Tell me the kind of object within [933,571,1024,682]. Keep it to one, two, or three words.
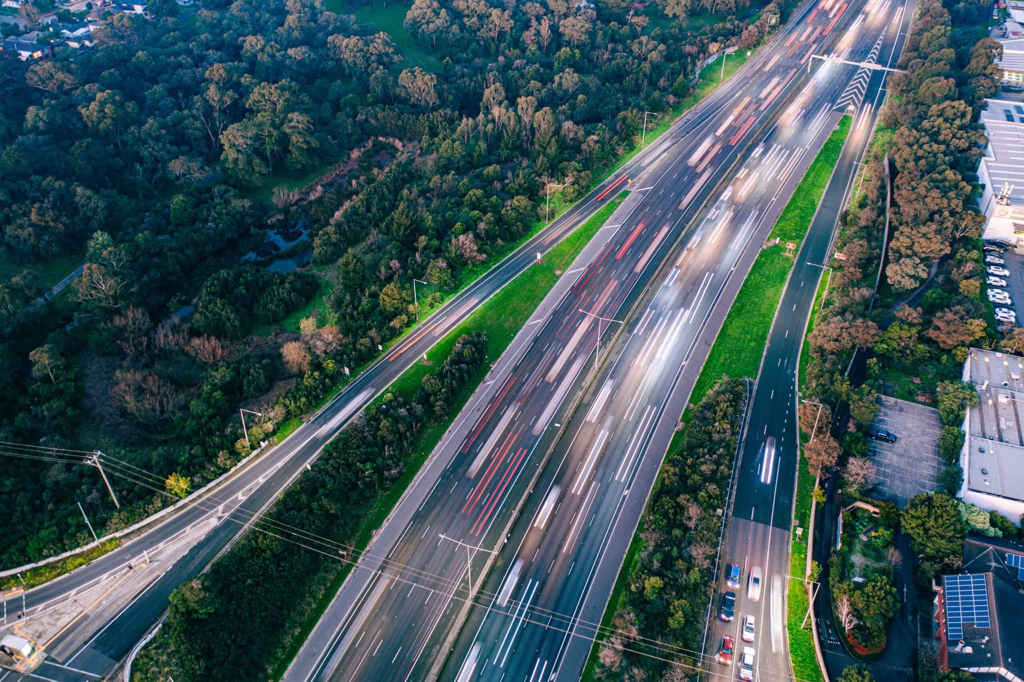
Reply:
building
